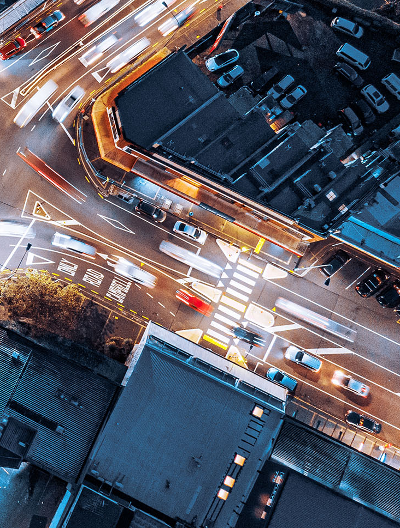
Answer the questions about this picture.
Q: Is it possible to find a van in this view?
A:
Yes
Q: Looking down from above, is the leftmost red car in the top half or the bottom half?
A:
top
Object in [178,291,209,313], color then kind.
red car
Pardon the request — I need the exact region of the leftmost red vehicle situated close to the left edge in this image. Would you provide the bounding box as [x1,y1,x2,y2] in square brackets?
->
[0,36,28,63]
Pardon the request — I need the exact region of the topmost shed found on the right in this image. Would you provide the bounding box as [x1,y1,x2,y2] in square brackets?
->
[209,0,304,56]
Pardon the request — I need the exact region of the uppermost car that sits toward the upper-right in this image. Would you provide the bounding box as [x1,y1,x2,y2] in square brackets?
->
[331,17,362,40]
